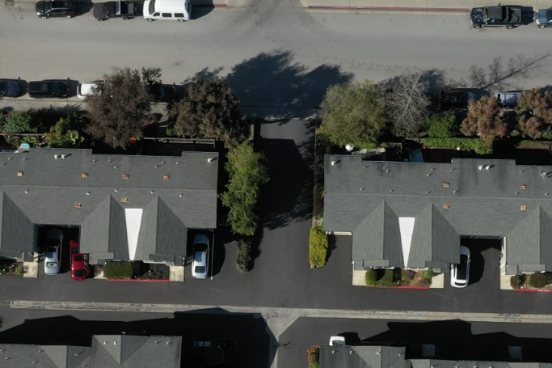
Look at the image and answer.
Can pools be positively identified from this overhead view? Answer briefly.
No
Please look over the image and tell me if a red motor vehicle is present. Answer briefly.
Yes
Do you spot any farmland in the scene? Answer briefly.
No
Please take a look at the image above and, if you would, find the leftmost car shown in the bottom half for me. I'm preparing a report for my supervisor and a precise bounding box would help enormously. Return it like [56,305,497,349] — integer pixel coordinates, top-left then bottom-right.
[42,230,63,277]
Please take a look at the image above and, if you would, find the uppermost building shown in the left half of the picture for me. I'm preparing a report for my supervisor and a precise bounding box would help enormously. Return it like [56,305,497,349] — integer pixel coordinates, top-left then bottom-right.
[0,147,218,270]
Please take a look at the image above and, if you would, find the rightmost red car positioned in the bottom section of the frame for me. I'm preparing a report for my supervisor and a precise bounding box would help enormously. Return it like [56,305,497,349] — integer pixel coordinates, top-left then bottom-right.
[69,235,89,279]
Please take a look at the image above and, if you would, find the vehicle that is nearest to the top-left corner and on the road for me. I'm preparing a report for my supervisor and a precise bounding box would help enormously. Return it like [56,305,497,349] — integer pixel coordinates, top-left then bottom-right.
[35,0,78,19]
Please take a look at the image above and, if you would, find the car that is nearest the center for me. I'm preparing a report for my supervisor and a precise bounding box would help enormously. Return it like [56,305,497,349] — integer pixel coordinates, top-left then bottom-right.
[189,234,211,279]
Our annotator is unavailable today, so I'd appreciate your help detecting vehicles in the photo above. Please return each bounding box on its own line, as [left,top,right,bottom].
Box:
[28,77,71,99]
[450,246,472,289]
[533,5,552,29]
[469,4,523,28]
[436,88,487,110]
[77,78,104,99]
[0,77,26,98]
[492,89,532,110]
[69,235,89,279]
[142,0,192,22]
[93,0,139,20]
[42,230,63,277]
[327,332,347,344]
[189,234,211,279]
[35,0,78,19]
